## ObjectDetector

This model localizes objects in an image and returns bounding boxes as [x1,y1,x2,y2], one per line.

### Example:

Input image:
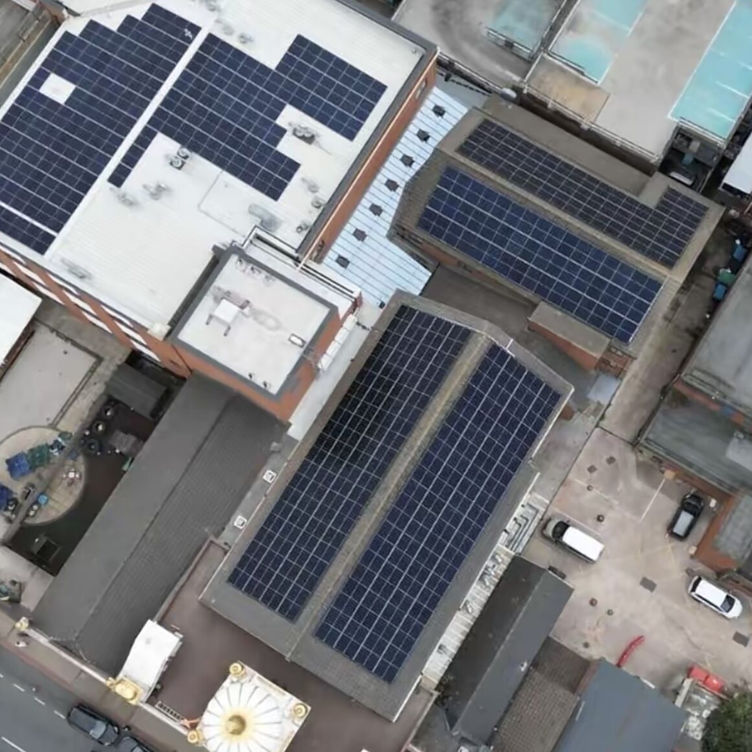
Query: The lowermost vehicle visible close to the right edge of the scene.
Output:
[684,572,744,621]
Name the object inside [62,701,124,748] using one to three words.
car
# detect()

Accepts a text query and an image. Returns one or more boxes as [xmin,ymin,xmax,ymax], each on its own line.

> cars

[665,491,707,544]
[541,518,607,563]
[114,735,157,752]
[62,701,124,748]
[684,572,744,621]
